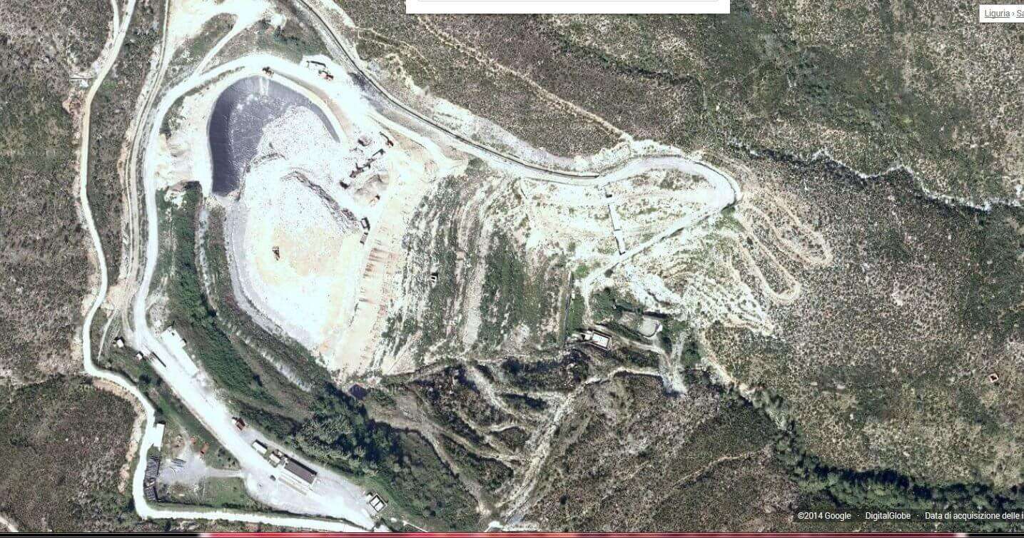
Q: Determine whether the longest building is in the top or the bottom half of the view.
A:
bottom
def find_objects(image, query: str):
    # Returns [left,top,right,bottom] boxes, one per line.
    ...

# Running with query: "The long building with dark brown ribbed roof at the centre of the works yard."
[281,460,317,487]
